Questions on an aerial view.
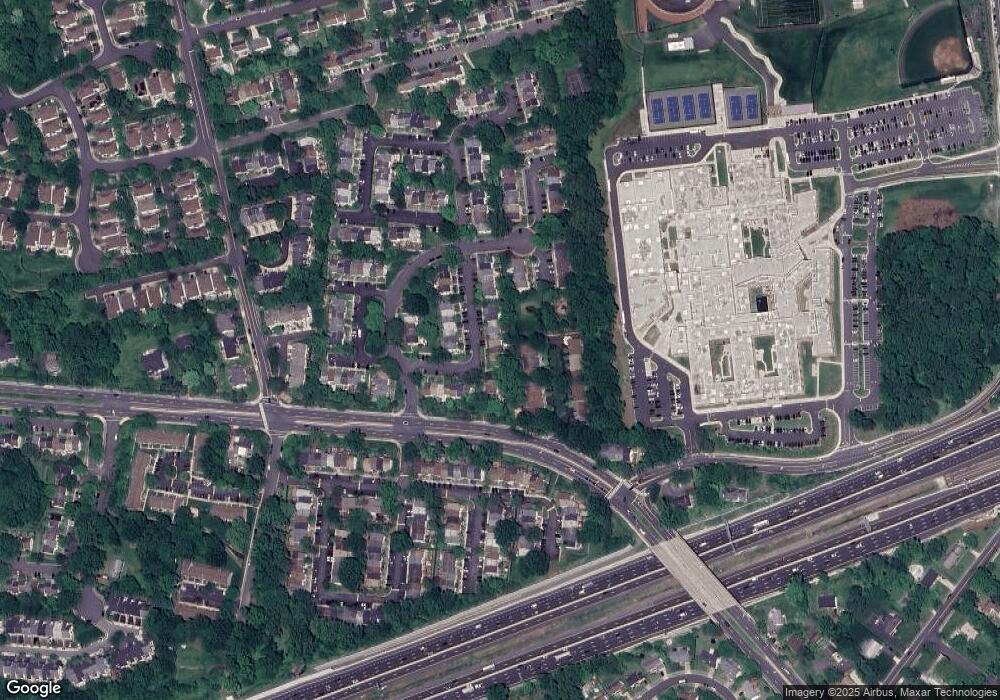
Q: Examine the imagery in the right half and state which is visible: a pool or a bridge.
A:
bridge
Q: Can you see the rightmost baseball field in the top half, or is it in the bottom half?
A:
top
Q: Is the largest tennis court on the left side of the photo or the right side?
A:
right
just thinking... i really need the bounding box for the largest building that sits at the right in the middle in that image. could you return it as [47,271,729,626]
[624,148,842,404]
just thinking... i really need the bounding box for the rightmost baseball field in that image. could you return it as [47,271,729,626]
[898,0,974,87]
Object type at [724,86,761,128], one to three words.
tennis court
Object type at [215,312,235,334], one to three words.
house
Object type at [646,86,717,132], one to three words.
tennis court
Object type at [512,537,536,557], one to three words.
building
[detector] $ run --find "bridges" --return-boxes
[648,527,737,618]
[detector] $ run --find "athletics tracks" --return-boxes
[636,0,715,32]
